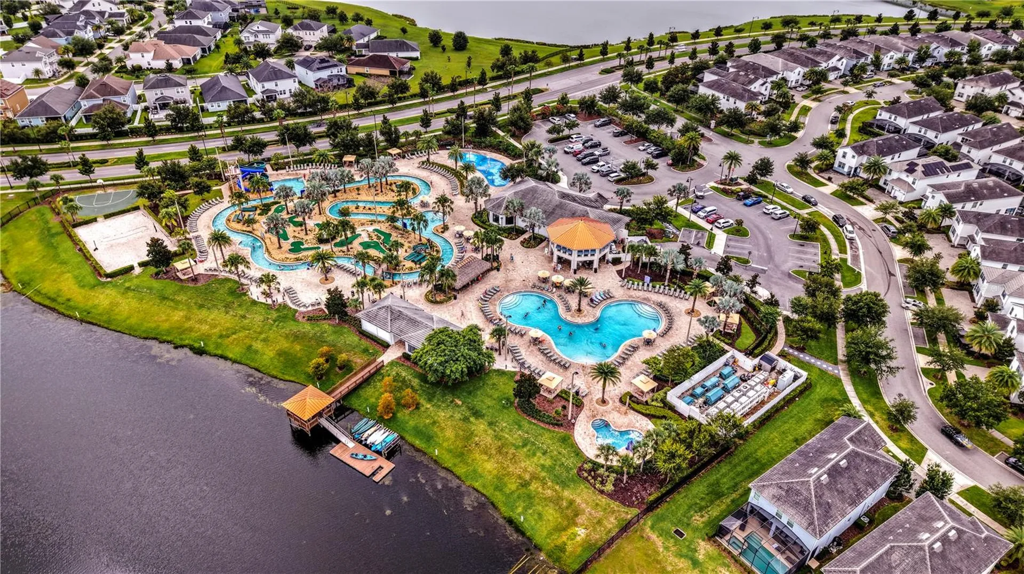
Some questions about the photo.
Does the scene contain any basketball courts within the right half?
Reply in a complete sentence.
No, there is no basketball court within the right half.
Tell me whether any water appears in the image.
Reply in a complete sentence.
Yes, there is water in the image.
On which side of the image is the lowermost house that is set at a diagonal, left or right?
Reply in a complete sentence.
The lowermost house that is set at a diagonal appears in the right half of the scene.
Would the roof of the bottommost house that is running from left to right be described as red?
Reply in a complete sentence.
No, the roof of the bottommost house that is running from left to right is actually gray.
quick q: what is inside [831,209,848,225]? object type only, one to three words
car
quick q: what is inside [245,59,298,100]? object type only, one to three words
house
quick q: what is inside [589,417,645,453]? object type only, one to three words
swimming pool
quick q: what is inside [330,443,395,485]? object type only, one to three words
pier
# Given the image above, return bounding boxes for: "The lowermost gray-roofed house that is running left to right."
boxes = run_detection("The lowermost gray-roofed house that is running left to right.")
[821,491,1011,574]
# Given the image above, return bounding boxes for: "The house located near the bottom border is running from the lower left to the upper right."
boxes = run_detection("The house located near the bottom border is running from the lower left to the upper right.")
[715,415,904,574]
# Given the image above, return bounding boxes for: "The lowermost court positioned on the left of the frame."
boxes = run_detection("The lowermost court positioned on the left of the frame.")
[73,209,177,268]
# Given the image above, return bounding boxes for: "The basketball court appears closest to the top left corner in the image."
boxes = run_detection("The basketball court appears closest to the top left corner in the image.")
[67,190,137,215]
